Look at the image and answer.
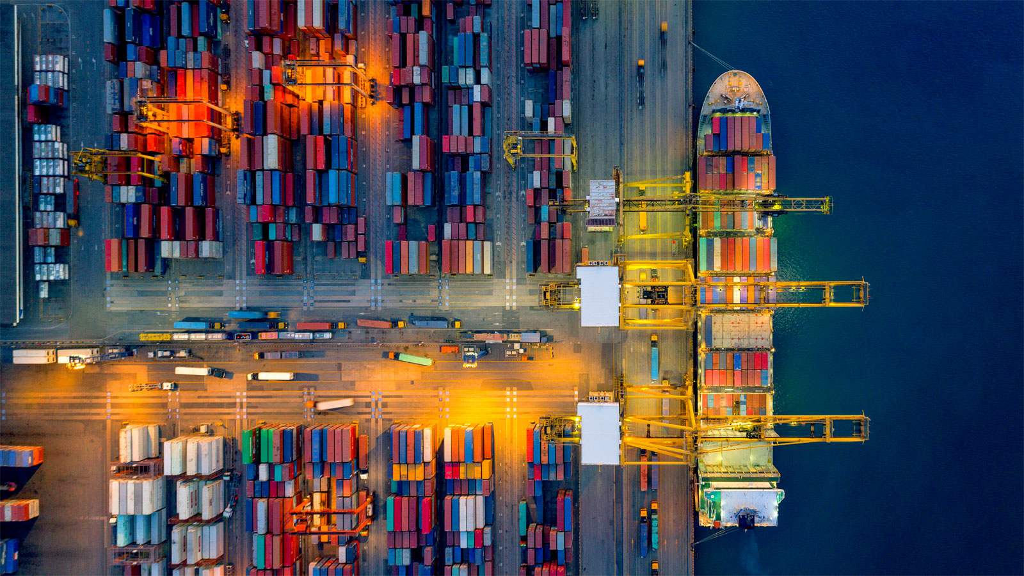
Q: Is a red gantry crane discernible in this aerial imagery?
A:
Yes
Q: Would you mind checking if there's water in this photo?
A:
Yes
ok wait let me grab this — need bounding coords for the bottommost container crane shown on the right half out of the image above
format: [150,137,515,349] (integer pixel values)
[534,370,868,466]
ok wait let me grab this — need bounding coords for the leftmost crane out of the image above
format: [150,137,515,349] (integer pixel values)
[67,153,170,188]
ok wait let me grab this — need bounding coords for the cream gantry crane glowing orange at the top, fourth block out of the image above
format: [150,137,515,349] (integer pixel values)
[280,61,374,107]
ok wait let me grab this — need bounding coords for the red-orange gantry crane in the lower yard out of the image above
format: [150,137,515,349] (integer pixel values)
[287,488,375,536]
